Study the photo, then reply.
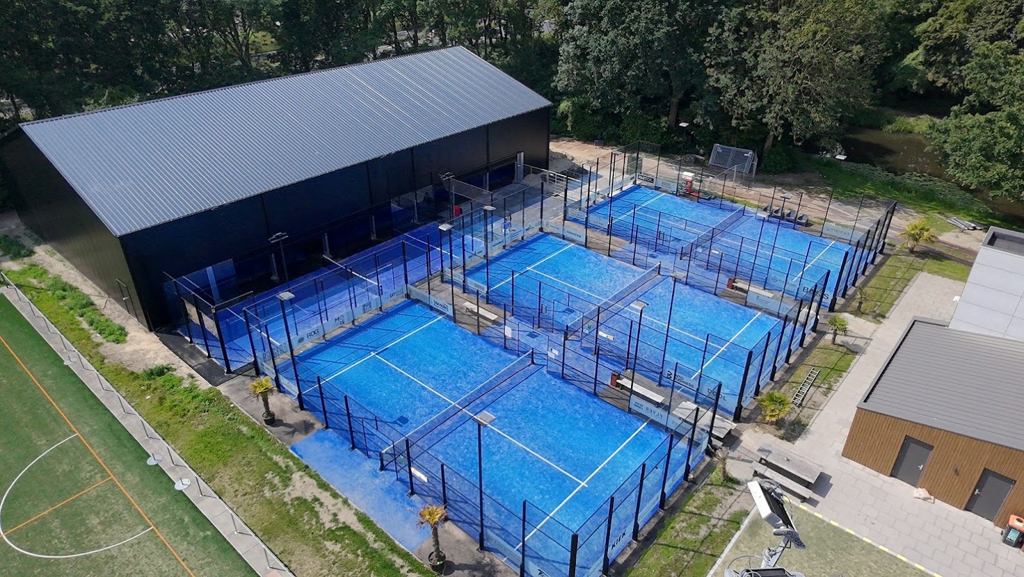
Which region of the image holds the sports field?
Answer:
bottom left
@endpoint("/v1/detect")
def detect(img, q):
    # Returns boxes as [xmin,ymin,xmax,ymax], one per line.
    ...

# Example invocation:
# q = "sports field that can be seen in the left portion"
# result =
[0,290,249,577]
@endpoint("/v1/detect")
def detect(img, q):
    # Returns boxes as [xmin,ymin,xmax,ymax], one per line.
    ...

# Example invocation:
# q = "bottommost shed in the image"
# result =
[841,316,1024,536]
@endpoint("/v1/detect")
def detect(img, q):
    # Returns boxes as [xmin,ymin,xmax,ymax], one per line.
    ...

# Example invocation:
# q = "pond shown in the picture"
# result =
[770,73,1024,223]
